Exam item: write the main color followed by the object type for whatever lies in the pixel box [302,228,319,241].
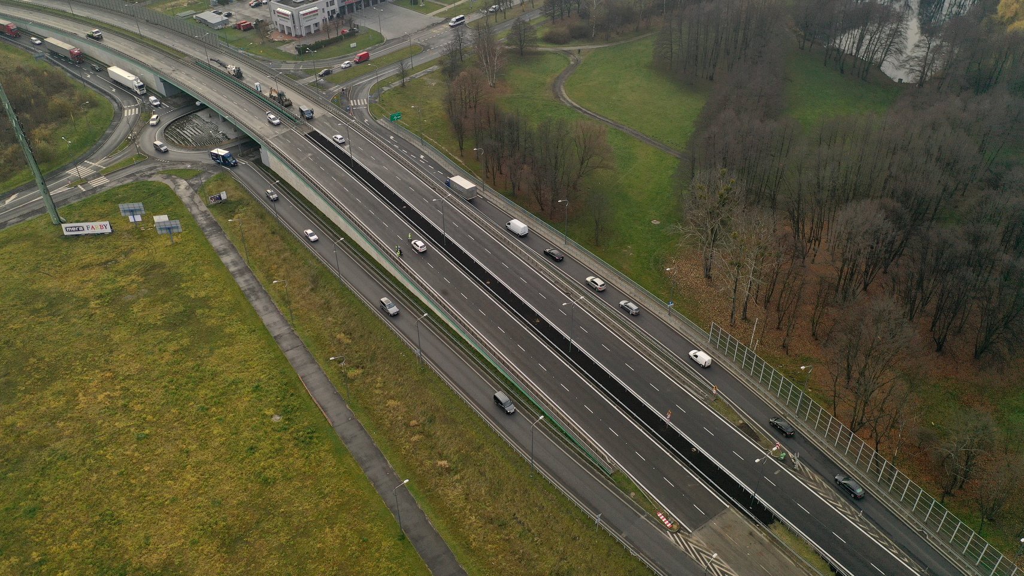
white vehicle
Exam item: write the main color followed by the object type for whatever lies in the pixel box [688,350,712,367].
white vehicle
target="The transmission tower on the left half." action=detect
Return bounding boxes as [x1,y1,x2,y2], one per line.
[0,62,63,226]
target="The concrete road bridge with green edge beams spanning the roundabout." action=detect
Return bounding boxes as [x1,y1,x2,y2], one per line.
[156,55,350,167]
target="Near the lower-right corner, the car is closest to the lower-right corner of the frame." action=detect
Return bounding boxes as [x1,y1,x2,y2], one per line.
[833,473,867,500]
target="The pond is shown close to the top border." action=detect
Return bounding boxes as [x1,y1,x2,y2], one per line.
[834,0,982,84]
